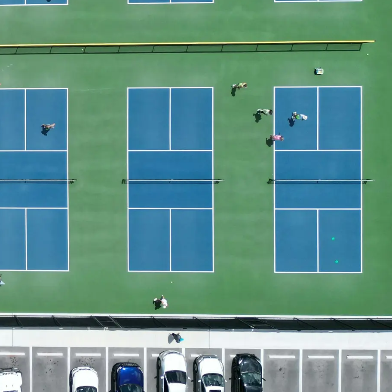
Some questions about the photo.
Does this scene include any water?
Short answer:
No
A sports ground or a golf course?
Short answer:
sports ground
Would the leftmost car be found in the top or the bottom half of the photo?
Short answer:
bottom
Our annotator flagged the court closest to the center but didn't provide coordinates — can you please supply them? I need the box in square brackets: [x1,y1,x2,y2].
[128,87,214,272]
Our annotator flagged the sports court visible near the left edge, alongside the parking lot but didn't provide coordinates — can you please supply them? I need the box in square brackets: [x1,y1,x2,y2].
[0,88,69,271]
